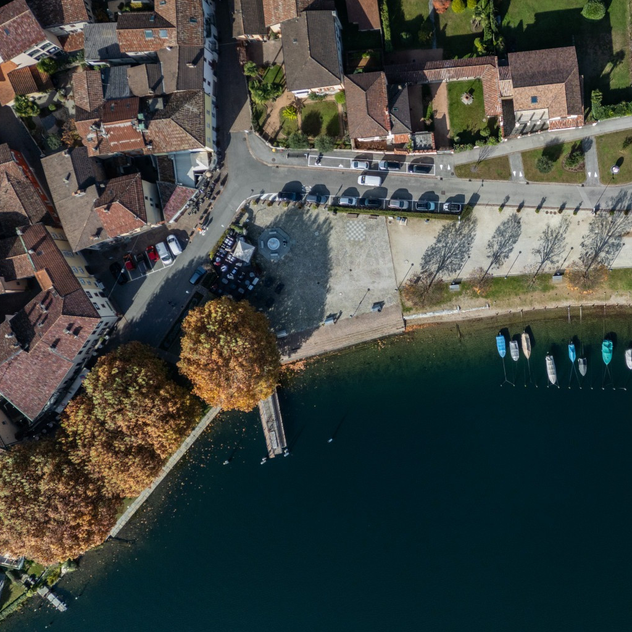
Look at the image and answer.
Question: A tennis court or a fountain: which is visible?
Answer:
fountain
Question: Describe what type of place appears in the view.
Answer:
residential area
